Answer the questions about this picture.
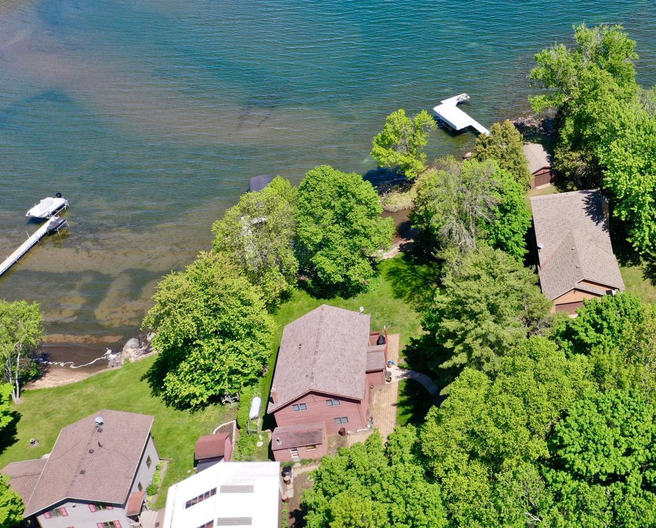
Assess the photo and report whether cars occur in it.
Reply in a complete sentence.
No, I can't see a single car in this photo.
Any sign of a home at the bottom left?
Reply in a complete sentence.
Yes, the scene does show a home at the bottom left.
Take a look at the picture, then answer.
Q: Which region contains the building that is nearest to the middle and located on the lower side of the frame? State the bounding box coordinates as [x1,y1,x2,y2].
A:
[266,304,389,433]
